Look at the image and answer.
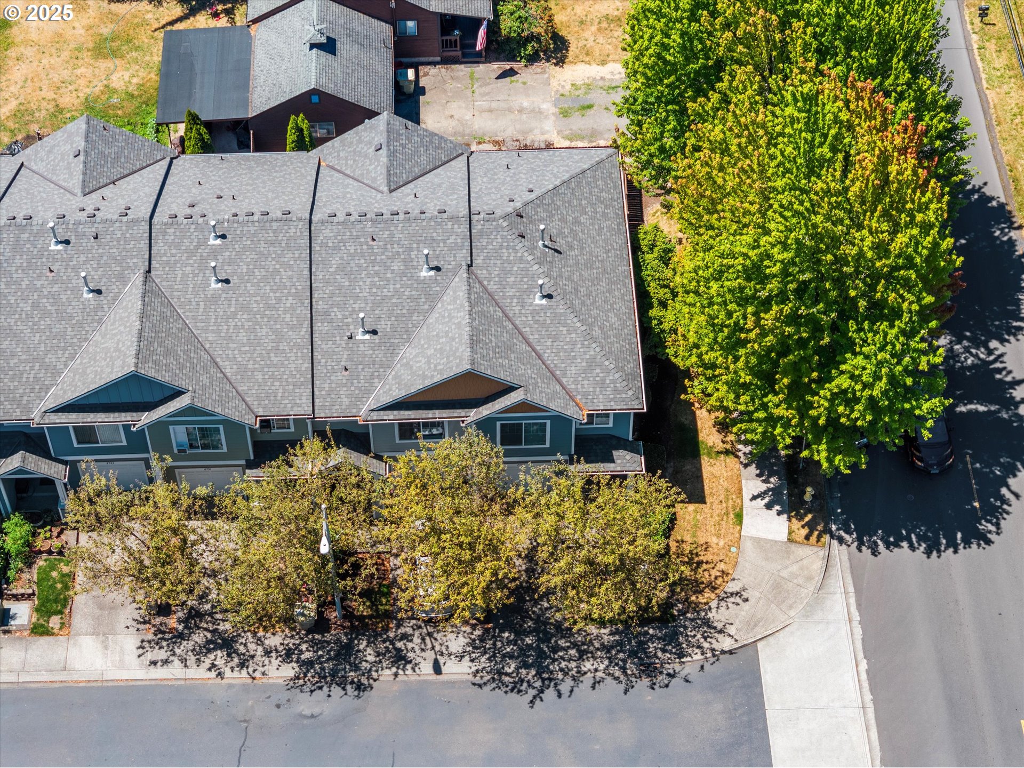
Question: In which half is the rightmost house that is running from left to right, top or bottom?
top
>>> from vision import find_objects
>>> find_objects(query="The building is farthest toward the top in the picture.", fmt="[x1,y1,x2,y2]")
[155,0,493,154]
